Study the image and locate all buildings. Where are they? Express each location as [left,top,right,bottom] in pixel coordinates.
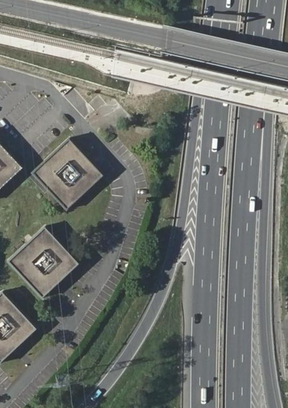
[32,138,106,211]
[0,142,24,190]
[7,226,82,298]
[0,292,39,364]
